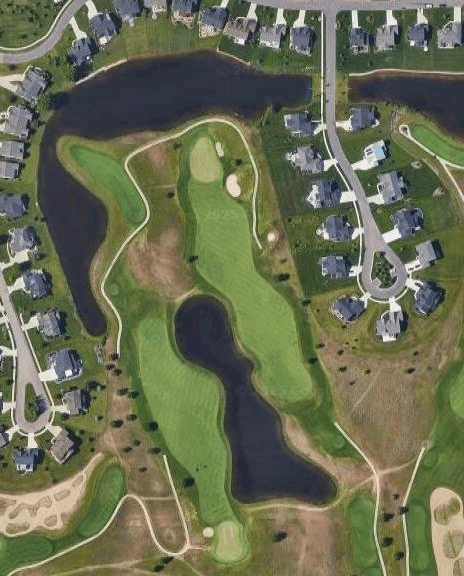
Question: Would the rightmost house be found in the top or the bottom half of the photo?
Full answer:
Seen from above, the rightmost house lies in the top half of the view.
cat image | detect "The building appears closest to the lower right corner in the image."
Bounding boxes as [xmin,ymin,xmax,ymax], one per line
[374,310,407,342]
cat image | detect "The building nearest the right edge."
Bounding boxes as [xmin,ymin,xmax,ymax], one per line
[432,18,464,52]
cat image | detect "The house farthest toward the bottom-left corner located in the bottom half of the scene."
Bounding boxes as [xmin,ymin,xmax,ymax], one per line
[12,443,41,474]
